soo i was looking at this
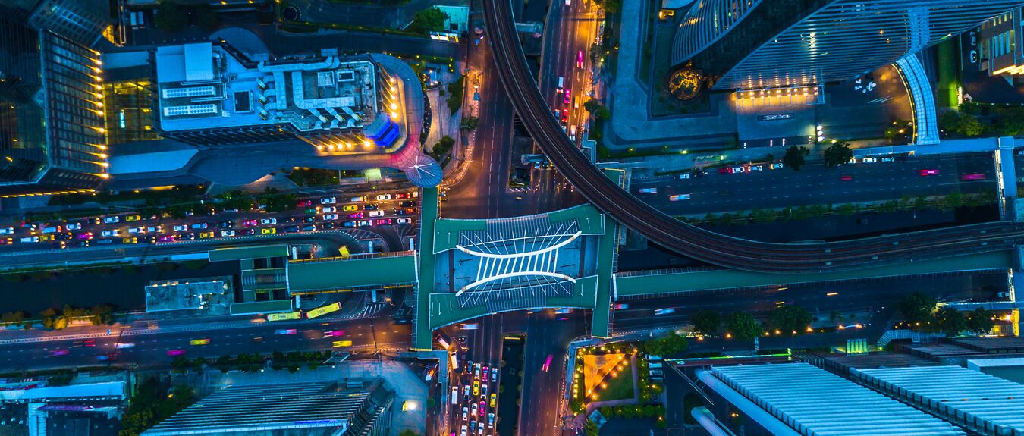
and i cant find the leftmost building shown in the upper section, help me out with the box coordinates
[0,0,112,197]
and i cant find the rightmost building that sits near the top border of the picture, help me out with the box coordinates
[970,9,1024,76]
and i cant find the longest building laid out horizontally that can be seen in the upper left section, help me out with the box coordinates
[154,41,394,147]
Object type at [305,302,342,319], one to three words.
vehicle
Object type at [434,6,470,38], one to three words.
building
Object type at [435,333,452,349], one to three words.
vehicle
